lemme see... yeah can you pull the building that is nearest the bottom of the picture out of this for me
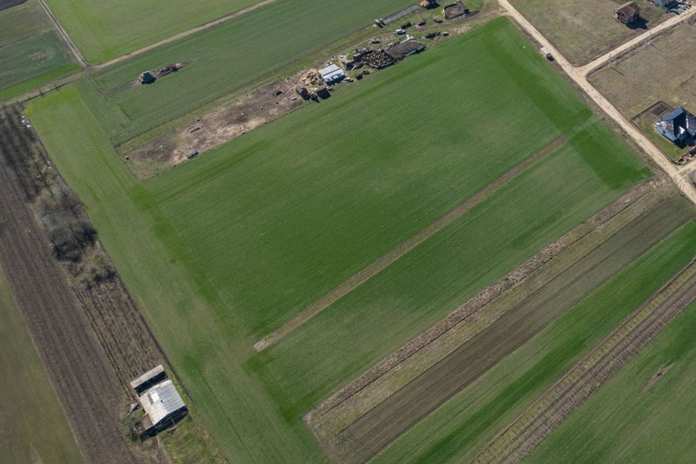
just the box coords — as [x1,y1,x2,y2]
[137,380,187,432]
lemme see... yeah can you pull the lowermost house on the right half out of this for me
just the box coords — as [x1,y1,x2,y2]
[665,106,696,140]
